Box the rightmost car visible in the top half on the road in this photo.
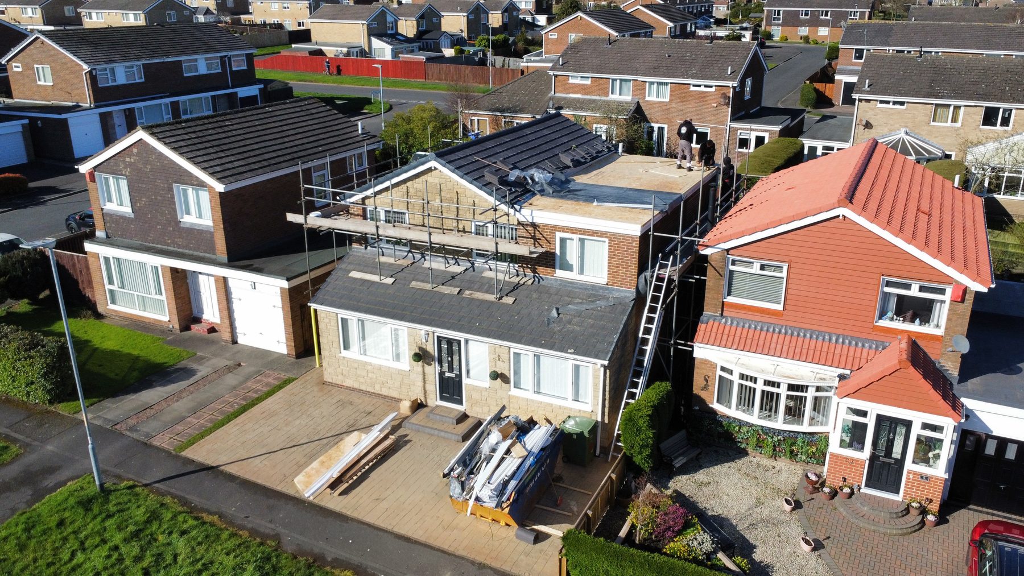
[758,43,786,57]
